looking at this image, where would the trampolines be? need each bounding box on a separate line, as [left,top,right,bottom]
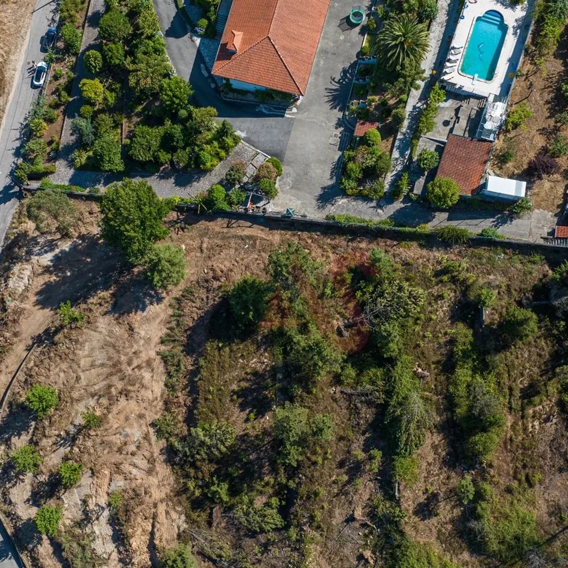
[349,5,366,25]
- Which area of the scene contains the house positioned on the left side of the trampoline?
top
